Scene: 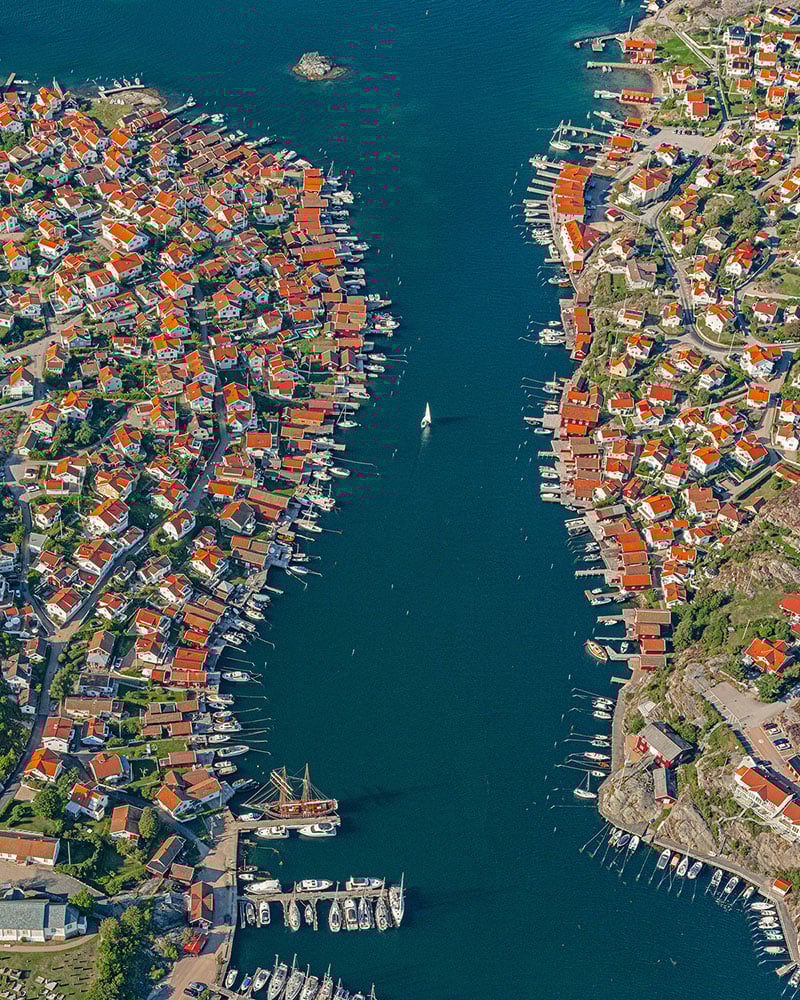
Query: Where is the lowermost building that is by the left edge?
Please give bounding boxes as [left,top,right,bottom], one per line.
[0,886,93,943]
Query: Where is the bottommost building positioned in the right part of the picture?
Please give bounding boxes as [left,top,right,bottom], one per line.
[772,875,792,904]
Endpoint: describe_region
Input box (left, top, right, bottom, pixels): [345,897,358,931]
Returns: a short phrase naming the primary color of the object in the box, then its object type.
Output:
white boat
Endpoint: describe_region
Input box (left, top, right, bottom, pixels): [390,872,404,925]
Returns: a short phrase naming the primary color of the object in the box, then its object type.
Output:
white boat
